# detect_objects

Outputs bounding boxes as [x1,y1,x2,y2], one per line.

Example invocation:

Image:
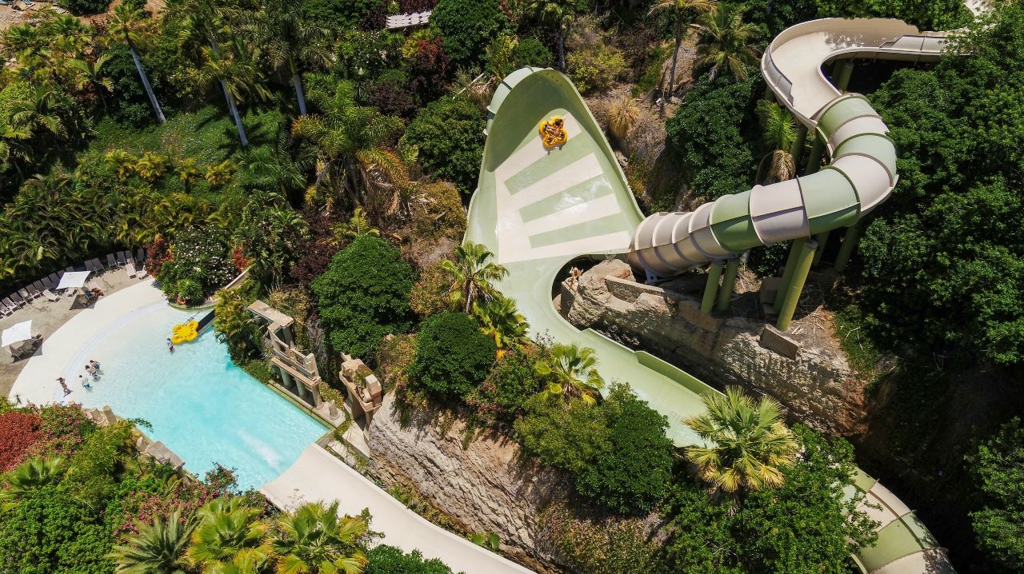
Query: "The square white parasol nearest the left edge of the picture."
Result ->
[2,320,36,358]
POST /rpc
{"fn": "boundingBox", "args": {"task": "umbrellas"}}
[56,271,90,304]
[2,320,36,358]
